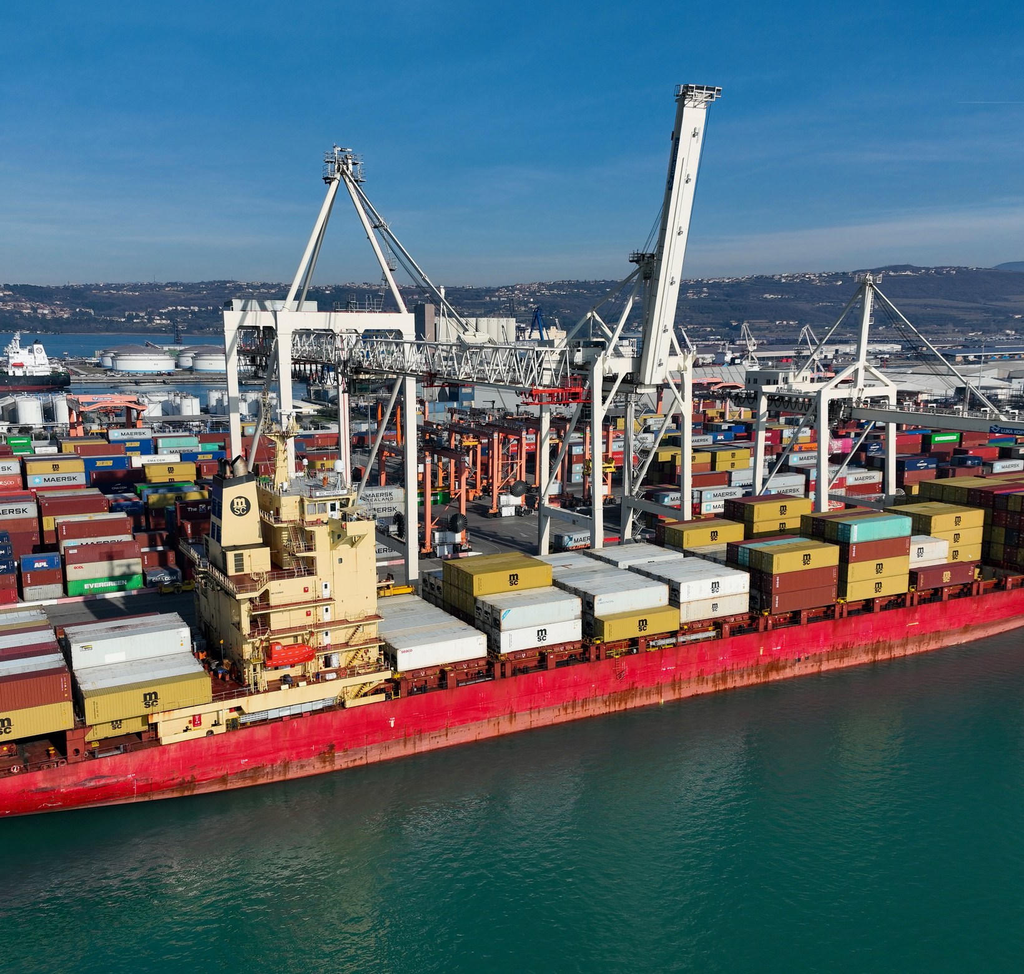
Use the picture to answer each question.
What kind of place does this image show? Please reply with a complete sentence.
The picture captures a port.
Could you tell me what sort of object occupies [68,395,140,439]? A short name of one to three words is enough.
container crane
